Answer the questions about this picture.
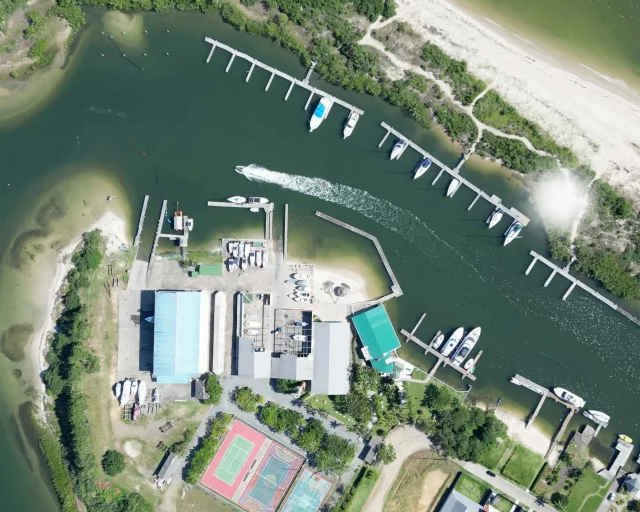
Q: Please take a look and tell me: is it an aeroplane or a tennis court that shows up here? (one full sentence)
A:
This aerial view contains a tennis court.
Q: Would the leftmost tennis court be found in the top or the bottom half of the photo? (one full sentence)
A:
The bottom half of the photo is where the leftmost tennis court is.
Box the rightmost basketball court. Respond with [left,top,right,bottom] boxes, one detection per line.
[279,466,335,512]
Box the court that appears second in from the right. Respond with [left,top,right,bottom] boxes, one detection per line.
[238,442,303,512]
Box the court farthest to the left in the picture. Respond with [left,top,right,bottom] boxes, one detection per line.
[202,419,266,499]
